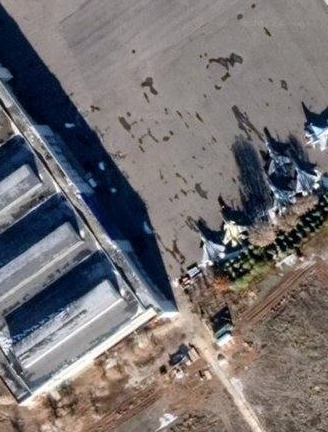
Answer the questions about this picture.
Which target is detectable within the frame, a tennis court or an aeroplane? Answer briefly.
aeroplane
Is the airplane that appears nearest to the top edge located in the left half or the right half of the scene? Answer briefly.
right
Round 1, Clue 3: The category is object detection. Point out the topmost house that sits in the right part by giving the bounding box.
[212,324,236,346]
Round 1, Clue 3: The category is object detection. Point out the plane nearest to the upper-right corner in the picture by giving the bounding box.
[304,121,328,152]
